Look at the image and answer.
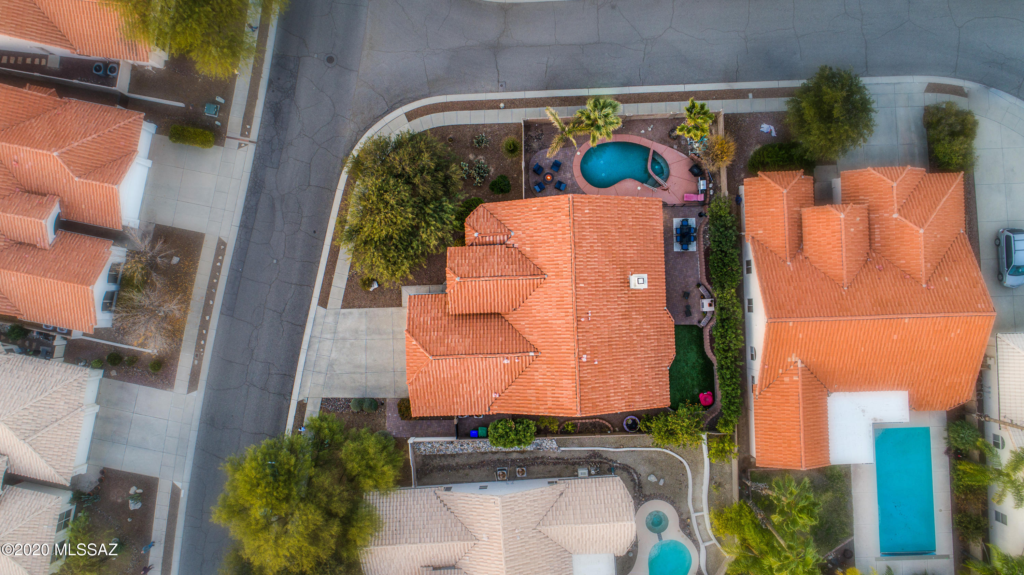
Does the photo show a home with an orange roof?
Yes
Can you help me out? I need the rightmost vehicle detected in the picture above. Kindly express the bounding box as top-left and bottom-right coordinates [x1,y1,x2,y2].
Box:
[994,230,1024,286]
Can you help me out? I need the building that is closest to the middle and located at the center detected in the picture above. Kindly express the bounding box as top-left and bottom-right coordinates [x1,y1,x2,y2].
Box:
[404,193,678,418]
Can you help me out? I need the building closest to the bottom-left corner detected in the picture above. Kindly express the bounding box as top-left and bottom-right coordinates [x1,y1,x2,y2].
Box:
[0,355,117,575]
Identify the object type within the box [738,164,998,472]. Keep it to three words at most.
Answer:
house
